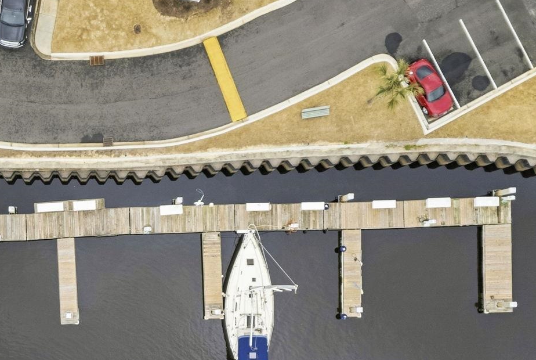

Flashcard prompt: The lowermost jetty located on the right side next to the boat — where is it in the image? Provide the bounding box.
[336,229,363,318]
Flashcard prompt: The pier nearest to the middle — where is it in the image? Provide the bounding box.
[234,202,324,232]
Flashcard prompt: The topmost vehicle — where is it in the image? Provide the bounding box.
[0,0,35,49]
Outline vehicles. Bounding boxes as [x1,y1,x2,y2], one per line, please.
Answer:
[408,57,454,118]
[0,0,35,49]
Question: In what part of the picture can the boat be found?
bottom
